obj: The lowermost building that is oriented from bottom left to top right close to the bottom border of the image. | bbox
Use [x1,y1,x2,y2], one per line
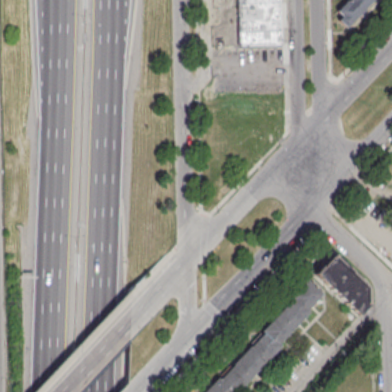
[204,280,324,392]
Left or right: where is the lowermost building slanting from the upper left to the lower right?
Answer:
right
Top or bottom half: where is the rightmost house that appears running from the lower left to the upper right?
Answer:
top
